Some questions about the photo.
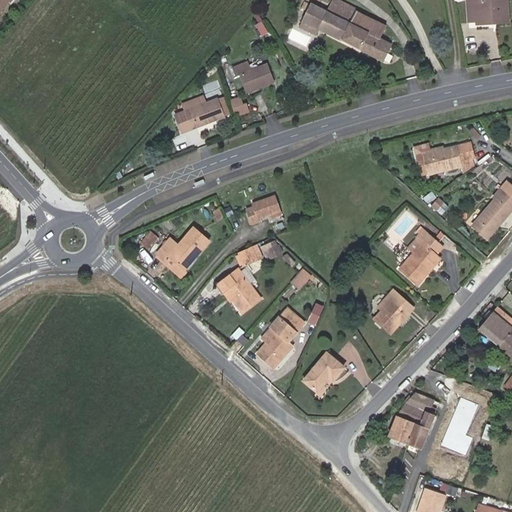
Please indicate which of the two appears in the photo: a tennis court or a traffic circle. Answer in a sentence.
There is a traffic circle in the scene.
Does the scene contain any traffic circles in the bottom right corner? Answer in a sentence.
No, there is no traffic circle in the bottom right corner.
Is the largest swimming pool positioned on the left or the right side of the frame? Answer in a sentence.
The largest swimming pool is on the right side of the image.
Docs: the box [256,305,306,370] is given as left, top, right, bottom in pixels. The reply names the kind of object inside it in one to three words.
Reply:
house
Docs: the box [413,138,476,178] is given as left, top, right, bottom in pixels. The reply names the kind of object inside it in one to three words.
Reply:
house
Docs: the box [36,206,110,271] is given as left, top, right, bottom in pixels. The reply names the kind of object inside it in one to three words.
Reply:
roundabout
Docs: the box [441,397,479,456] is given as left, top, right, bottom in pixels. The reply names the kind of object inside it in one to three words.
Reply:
building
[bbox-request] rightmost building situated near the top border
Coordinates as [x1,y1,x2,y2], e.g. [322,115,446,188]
[456,0,509,28]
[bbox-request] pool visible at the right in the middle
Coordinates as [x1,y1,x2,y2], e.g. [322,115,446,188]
[393,214,415,238]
